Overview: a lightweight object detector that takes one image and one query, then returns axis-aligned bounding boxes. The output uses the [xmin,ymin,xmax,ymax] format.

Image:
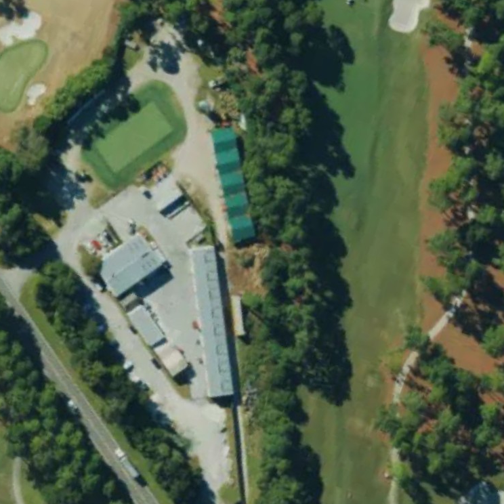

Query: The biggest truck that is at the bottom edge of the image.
[116,447,141,480]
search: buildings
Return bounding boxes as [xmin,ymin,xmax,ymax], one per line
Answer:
[188,247,233,397]
[126,305,165,346]
[210,128,255,241]
[152,345,187,376]
[100,234,166,298]
[150,178,183,212]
